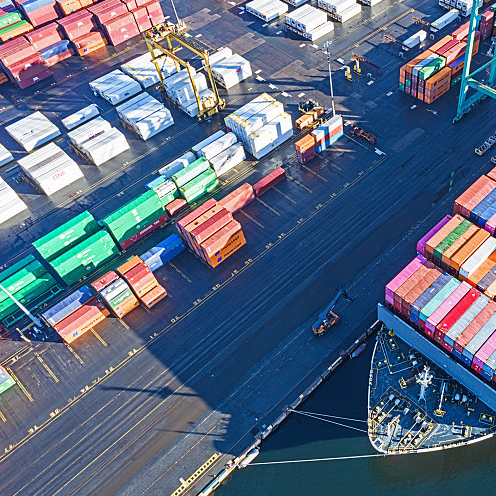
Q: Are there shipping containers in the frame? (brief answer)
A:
Yes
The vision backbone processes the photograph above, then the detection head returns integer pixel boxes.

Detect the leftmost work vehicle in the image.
[297,98,312,116]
